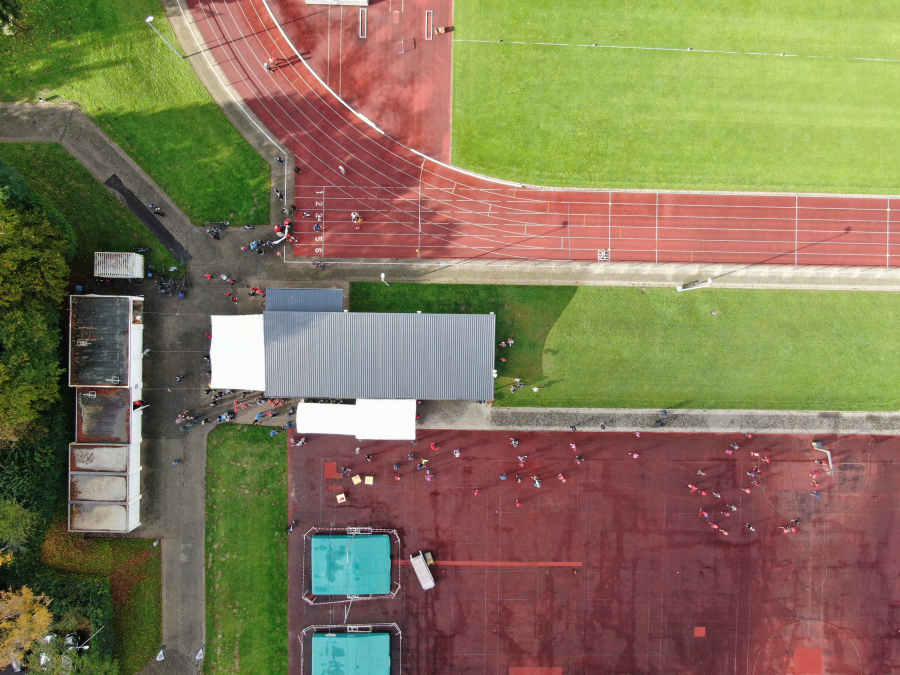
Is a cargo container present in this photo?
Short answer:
Yes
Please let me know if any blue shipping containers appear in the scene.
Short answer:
No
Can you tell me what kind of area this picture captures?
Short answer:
sports ground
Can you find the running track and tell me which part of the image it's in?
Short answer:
top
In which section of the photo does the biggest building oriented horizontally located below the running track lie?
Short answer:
center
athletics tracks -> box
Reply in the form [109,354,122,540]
[188,0,900,268]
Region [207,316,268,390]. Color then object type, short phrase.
white tent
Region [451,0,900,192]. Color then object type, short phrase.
green sports field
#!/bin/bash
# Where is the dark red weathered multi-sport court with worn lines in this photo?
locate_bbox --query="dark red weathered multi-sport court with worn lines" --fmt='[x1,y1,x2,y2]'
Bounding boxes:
[287,428,900,675]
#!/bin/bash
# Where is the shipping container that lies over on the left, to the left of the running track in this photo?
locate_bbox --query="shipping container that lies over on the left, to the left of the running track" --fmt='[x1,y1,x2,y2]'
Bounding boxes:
[94,251,145,278]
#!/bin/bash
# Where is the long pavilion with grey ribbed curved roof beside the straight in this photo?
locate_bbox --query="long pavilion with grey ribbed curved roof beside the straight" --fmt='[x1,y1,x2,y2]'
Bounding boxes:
[263,287,497,401]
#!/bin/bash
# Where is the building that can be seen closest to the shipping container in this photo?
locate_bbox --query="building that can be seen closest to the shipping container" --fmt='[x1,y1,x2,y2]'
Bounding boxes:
[69,295,151,532]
